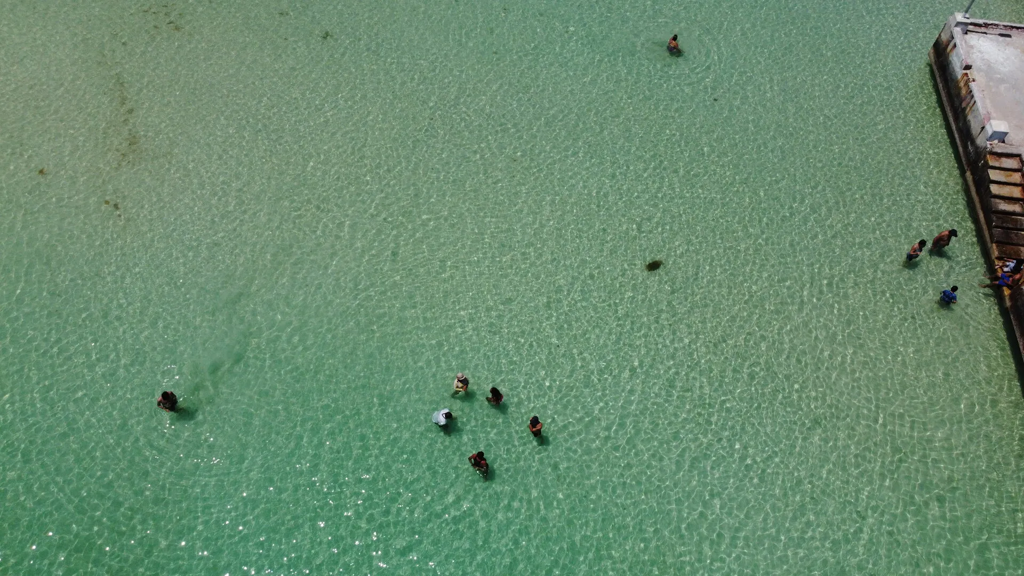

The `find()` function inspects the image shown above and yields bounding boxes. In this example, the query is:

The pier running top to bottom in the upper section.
[927,11,1024,370]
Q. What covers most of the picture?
water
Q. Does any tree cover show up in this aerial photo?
No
